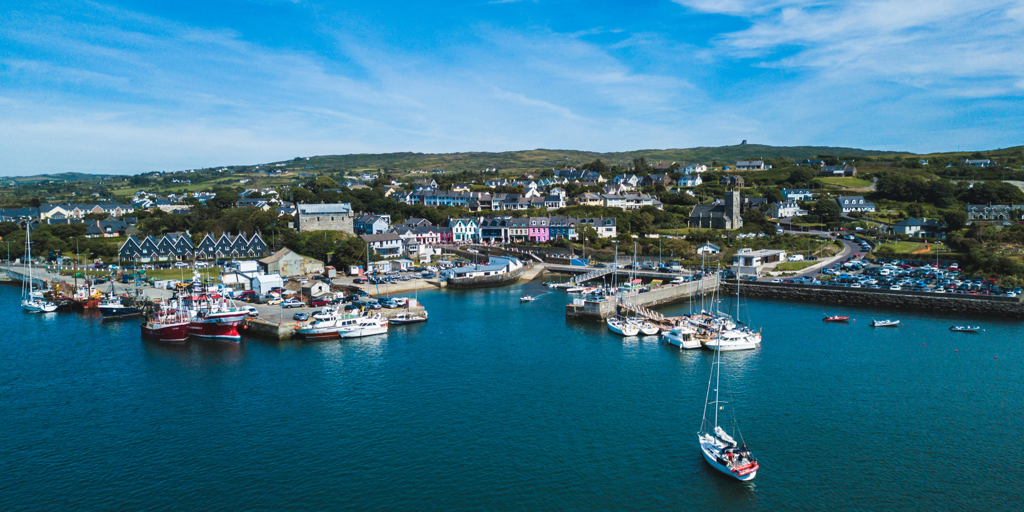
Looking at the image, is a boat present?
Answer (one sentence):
Yes, there's a boat here.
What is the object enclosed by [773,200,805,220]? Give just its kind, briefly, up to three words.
house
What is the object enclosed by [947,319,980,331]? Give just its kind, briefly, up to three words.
boat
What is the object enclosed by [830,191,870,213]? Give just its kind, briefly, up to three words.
house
